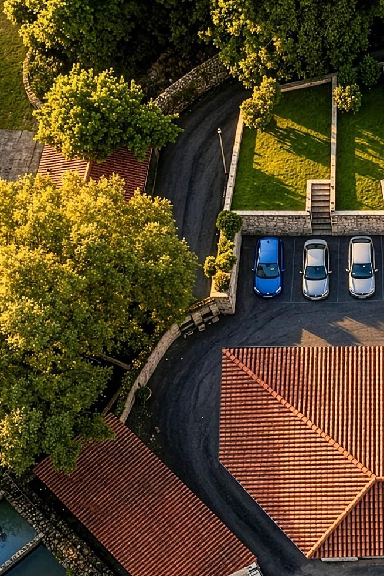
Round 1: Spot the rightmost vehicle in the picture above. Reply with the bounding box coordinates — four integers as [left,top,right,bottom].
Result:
[343,236,378,300]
